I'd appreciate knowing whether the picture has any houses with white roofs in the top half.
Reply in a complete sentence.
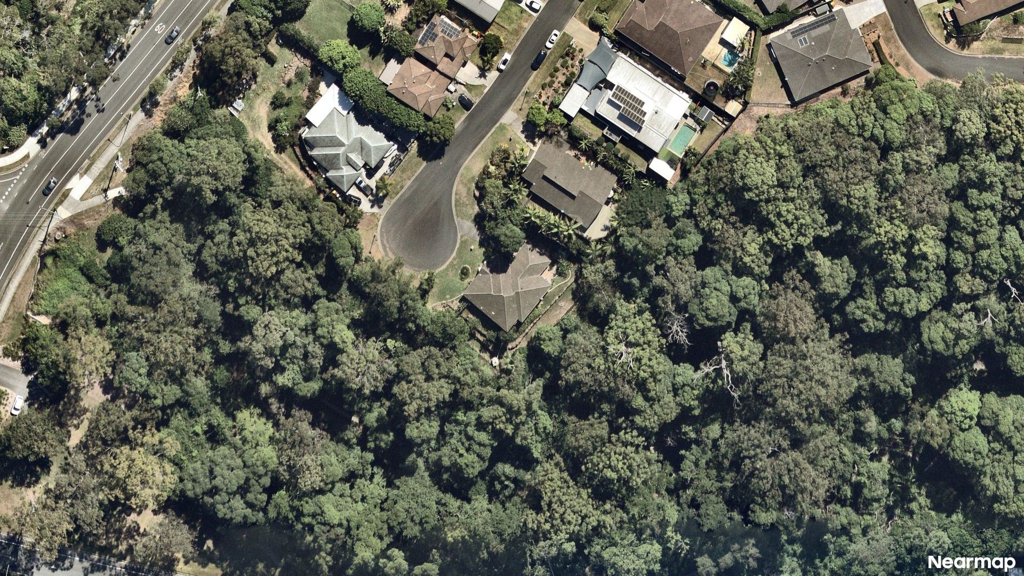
Yes, there is a house with a white roof in the top half.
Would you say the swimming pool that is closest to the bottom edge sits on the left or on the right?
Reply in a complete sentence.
It is on the right.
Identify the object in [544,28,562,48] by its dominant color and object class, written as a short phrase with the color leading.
white car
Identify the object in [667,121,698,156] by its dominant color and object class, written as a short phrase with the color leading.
green swimming pool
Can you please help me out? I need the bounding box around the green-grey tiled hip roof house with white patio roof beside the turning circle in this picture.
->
[304,85,394,193]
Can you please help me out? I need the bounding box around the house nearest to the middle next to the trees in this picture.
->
[463,242,552,332]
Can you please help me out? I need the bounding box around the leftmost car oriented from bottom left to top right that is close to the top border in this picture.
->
[163,25,182,45]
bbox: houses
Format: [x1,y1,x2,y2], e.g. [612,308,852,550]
[463,242,552,332]
[379,58,452,118]
[615,0,724,77]
[559,54,692,153]
[304,85,394,193]
[456,0,506,24]
[952,0,1024,27]
[521,138,618,230]
[414,15,478,79]
[769,8,872,102]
